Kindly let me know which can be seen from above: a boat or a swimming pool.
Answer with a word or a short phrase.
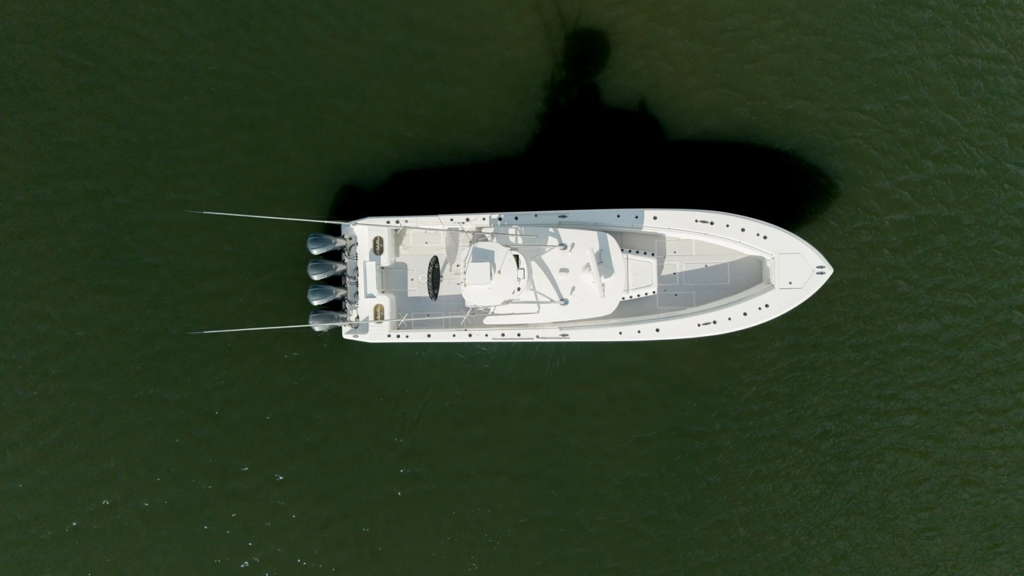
boat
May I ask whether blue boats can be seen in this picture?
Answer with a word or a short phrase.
No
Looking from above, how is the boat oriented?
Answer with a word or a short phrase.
horizontally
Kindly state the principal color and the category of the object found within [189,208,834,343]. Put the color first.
white boat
